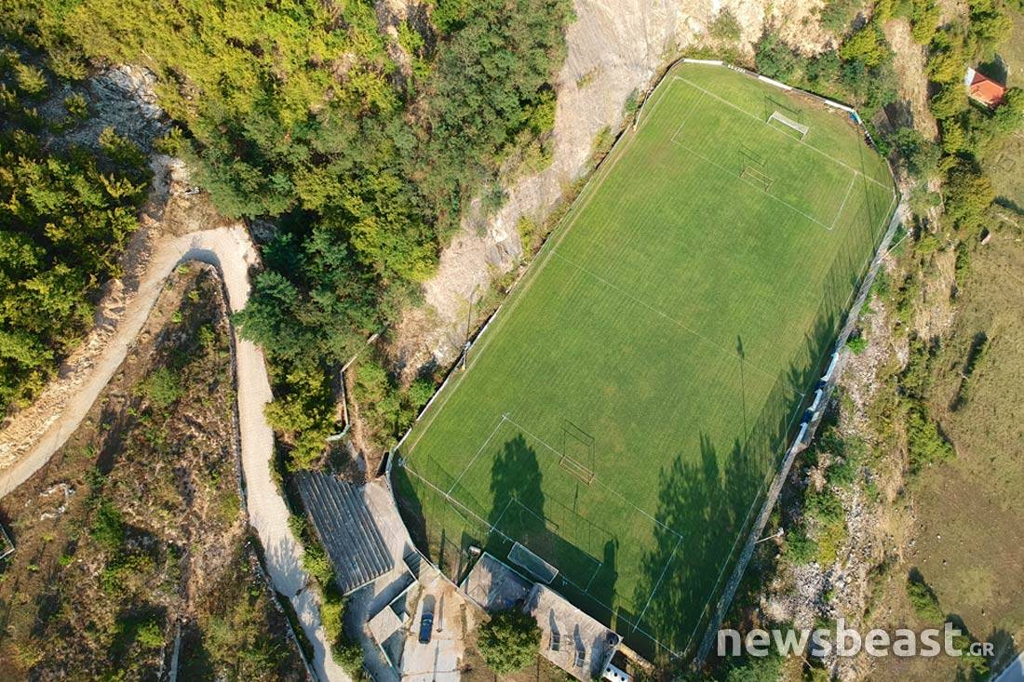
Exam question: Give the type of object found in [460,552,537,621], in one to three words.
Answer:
building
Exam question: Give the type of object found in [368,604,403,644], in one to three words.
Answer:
shed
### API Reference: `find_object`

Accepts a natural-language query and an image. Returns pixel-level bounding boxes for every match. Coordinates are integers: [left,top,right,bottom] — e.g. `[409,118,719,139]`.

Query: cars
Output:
[419,613,435,647]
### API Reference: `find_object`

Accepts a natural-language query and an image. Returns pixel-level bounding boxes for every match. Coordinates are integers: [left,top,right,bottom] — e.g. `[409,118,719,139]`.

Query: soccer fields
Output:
[389,61,897,682]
